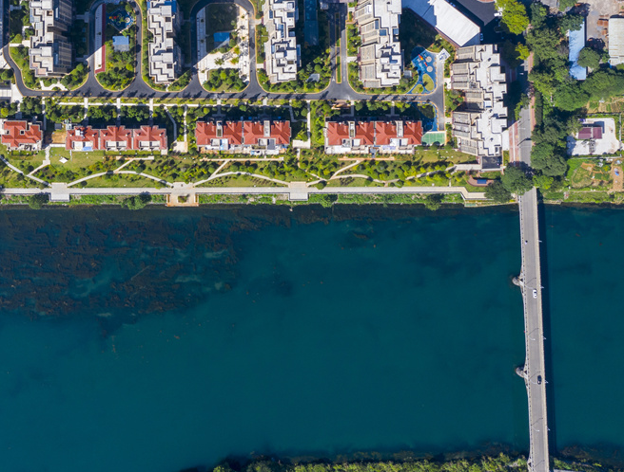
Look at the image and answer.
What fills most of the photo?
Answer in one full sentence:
The bulk of the photo consists of water.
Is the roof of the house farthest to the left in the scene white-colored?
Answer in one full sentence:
No, the roof of the house farthest to the left is red.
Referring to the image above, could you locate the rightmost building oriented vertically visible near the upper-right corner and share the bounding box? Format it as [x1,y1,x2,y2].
[605,17,624,58]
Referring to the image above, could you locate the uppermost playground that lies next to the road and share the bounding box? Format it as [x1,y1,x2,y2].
[106,7,135,32]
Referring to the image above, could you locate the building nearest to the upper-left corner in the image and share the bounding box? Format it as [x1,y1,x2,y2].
[29,0,76,80]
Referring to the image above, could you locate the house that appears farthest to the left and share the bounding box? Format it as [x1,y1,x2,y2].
[1,120,46,150]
